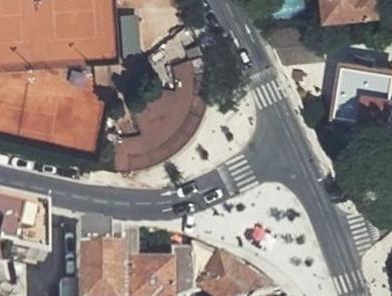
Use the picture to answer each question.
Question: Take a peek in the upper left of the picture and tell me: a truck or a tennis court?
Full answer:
What appears in the upper left of the picture is a tennis court.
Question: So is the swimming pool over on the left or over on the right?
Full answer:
It is on the right.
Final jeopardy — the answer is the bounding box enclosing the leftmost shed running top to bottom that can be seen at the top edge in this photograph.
[120,14,141,63]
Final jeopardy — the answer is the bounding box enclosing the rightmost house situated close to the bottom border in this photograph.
[196,248,274,296]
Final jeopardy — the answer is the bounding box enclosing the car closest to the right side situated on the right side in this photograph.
[239,49,252,66]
